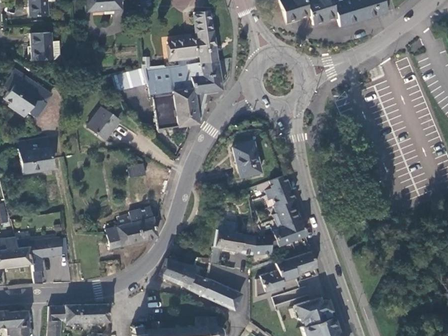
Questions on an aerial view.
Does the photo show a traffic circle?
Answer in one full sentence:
Yes, a traffic circle can be made out from above.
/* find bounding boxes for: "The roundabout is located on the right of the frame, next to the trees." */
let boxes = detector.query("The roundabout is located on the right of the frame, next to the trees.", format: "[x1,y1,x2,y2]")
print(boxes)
[235,33,325,118]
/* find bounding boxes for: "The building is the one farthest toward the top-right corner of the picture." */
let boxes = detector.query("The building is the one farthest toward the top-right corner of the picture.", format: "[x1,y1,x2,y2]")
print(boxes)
[338,0,389,29]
